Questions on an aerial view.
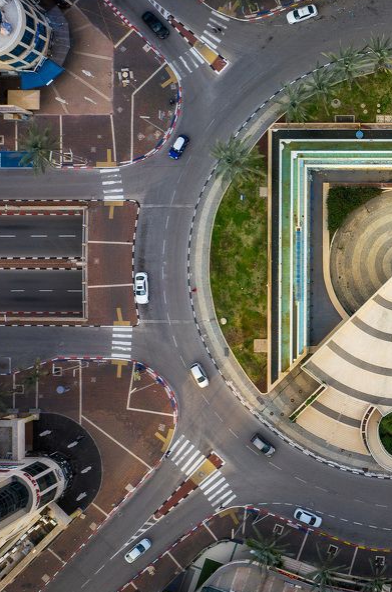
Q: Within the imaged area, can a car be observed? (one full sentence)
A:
Yes, there is a car in the image.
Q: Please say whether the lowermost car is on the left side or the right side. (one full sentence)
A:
It is on the left.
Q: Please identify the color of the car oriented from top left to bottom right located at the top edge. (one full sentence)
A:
The car oriented from top left to bottom right located at the top edge looks black in the image.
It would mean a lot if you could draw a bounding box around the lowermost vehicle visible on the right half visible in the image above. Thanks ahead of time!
[292,509,322,529]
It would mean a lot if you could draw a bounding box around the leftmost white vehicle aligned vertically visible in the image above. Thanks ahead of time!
[133,273,148,303]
